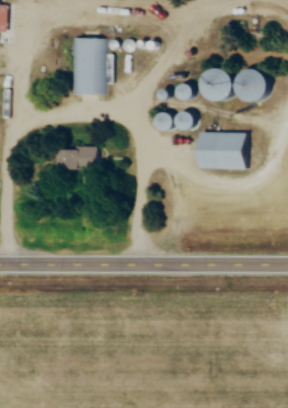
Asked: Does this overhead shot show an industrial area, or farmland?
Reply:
industrial area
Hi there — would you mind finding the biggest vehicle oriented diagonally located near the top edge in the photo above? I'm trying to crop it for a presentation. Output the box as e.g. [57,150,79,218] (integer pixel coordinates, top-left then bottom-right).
[150,0,170,20]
